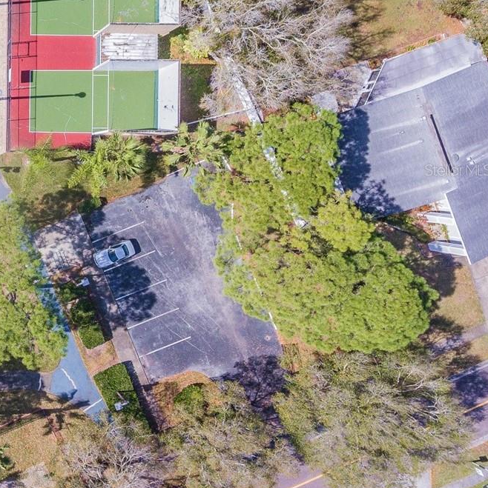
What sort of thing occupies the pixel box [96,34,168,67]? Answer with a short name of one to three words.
shed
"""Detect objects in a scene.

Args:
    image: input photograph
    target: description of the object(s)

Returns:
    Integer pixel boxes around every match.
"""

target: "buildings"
[337,35,488,264]
[96,34,168,67]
